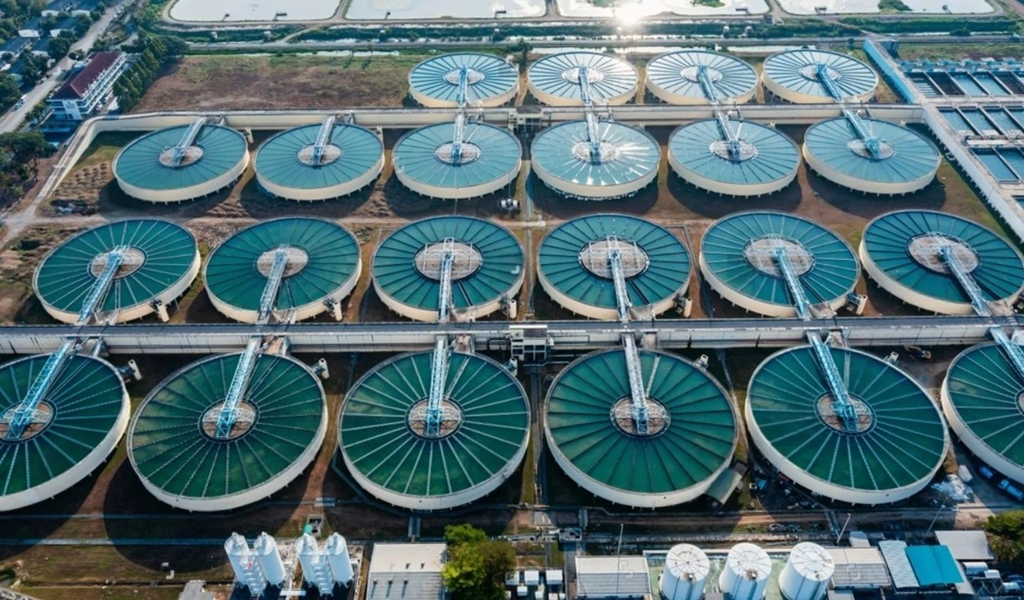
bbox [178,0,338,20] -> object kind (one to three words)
pond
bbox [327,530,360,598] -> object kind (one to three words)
silo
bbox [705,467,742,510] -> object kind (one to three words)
shed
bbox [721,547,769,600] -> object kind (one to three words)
storage tank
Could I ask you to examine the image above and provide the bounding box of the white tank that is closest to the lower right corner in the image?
[781,545,832,600]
